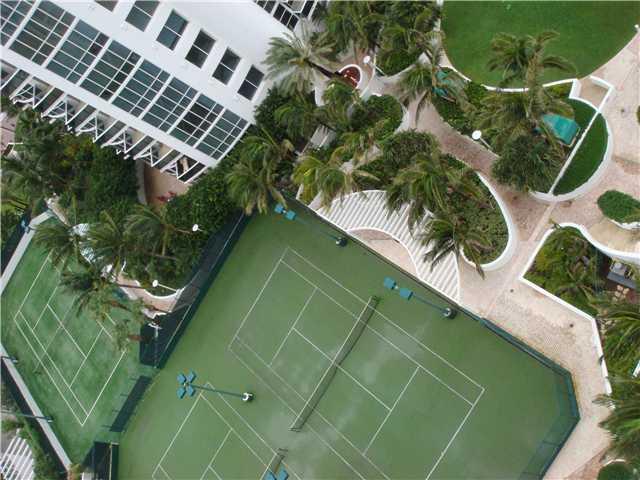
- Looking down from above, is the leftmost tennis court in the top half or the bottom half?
bottom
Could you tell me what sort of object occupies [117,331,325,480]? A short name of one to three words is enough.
tennis court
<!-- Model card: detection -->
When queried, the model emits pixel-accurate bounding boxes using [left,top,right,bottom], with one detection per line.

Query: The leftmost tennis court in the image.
[0,212,191,480]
